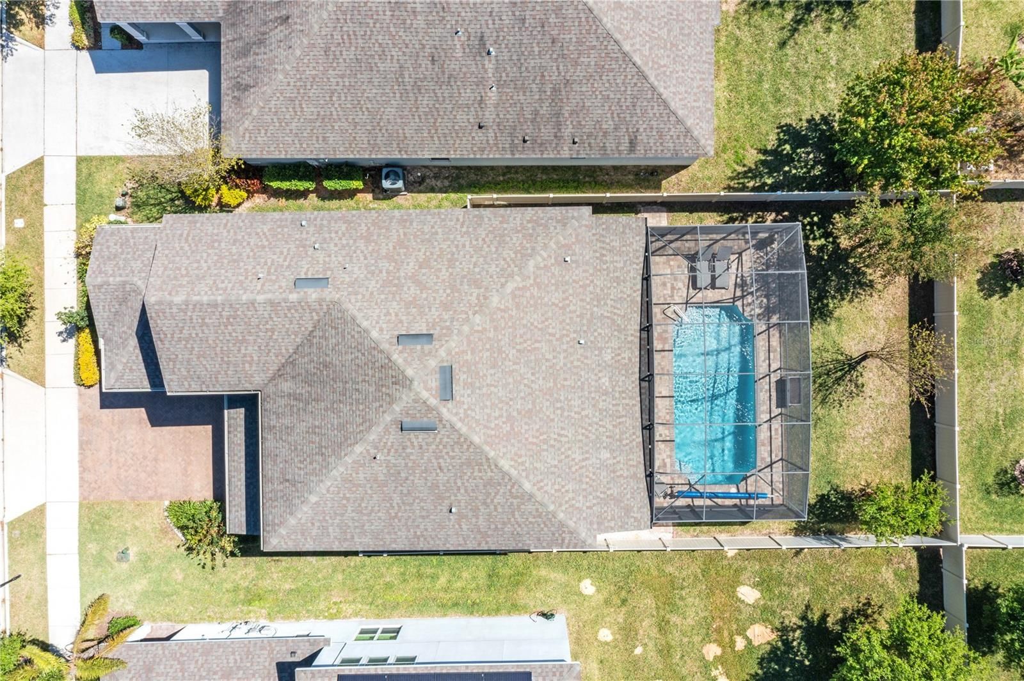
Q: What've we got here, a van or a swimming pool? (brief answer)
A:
swimming pool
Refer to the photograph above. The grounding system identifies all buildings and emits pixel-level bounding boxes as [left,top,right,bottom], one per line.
[93,0,718,169]
[112,616,582,681]
[85,205,651,556]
